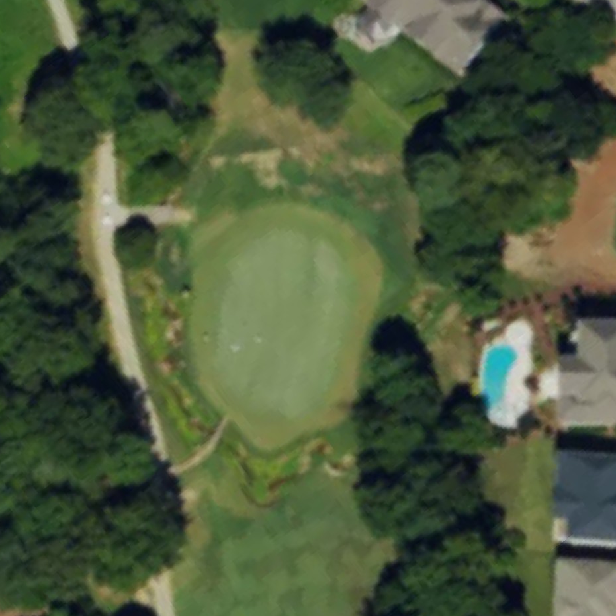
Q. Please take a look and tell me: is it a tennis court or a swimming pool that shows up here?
swimming pool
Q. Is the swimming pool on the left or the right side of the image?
right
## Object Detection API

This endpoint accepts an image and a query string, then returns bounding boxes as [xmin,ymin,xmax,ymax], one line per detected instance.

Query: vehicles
[101,189,111,206]
[102,212,112,227]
